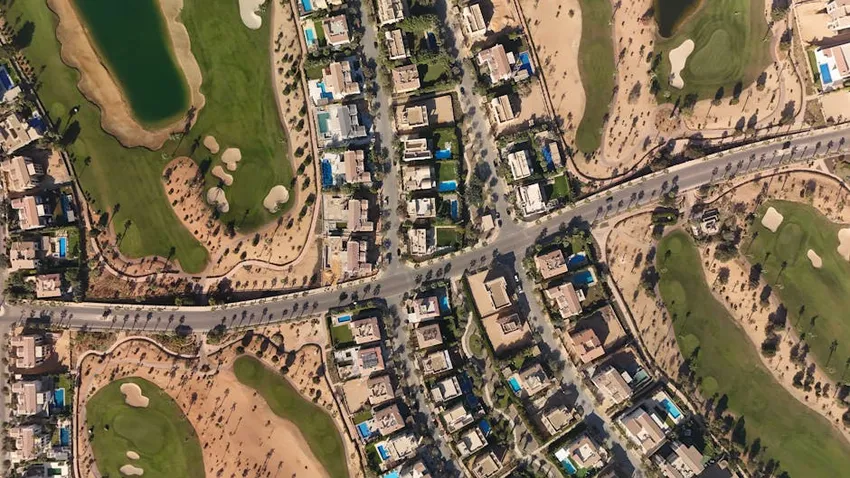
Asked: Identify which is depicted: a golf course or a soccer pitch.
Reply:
golf course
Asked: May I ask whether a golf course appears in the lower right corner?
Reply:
Yes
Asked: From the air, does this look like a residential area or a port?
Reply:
residential area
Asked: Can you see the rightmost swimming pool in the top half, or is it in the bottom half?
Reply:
top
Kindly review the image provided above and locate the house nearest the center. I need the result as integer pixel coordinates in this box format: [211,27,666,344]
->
[408,228,431,257]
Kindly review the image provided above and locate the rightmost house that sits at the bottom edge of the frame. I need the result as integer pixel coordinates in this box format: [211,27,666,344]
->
[659,442,705,478]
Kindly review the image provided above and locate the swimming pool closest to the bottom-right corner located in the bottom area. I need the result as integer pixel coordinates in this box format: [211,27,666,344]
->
[654,390,684,422]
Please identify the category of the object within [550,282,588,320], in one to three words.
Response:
house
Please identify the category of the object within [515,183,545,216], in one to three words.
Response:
house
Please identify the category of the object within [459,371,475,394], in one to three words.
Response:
swimming pool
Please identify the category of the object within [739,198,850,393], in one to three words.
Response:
golf course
